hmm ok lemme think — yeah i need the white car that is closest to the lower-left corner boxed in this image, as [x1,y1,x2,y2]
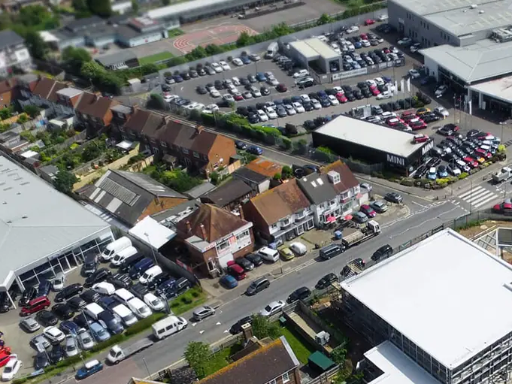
[1,358,23,379]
